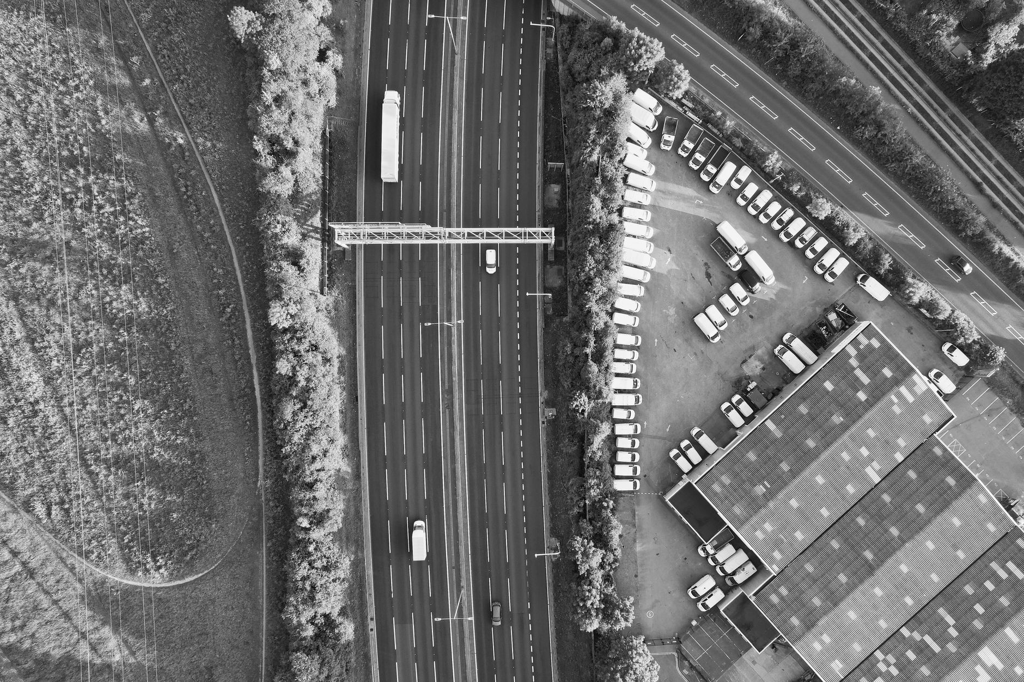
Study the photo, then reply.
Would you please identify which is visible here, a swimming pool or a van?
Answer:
van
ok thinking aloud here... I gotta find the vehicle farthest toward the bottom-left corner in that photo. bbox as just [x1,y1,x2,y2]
[412,520,426,562]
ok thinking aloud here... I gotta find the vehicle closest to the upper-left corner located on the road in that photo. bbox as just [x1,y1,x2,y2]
[383,93,401,181]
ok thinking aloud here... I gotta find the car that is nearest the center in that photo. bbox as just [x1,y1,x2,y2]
[484,249,497,274]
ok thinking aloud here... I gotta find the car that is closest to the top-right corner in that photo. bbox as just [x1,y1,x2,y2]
[949,254,972,275]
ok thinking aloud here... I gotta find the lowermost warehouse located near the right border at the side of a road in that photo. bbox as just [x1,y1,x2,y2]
[682,321,1024,682]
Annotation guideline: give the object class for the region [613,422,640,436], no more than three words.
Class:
vehicle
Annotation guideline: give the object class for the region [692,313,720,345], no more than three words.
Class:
van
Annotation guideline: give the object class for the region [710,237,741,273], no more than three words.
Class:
truck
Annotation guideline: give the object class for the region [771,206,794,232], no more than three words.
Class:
car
